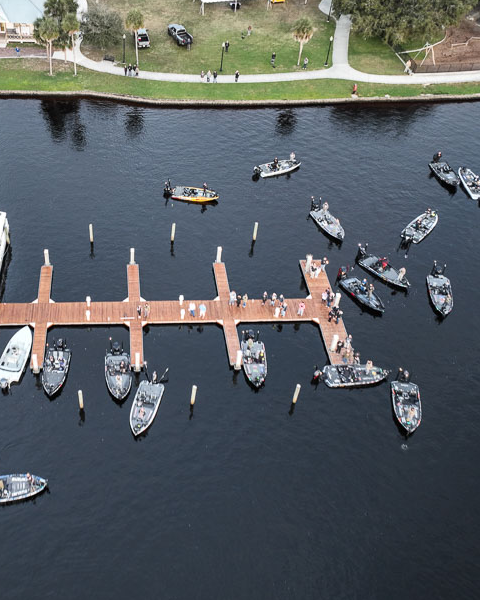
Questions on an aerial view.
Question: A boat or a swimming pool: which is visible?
boat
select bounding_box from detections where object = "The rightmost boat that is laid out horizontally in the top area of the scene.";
[256,158,303,178]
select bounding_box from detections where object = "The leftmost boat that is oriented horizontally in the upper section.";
[166,177,221,203]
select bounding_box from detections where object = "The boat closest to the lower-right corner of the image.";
[393,367,421,435]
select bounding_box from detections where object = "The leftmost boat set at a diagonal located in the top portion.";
[308,198,346,242]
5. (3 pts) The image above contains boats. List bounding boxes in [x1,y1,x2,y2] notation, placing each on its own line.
[0,475,48,505]
[398,209,439,247]
[308,198,346,242]
[458,164,480,202]
[41,334,70,398]
[0,324,33,390]
[317,360,389,388]
[393,367,421,435]
[256,158,303,178]
[242,326,267,390]
[360,244,413,291]
[106,340,131,404]
[130,367,170,437]
[166,177,221,203]
[428,262,452,317]
[430,154,463,191]
[340,265,388,316]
